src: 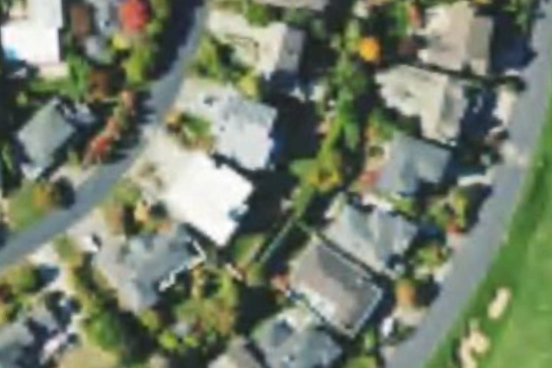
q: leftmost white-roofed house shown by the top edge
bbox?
[0,0,60,64]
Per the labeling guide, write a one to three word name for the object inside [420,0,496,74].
house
